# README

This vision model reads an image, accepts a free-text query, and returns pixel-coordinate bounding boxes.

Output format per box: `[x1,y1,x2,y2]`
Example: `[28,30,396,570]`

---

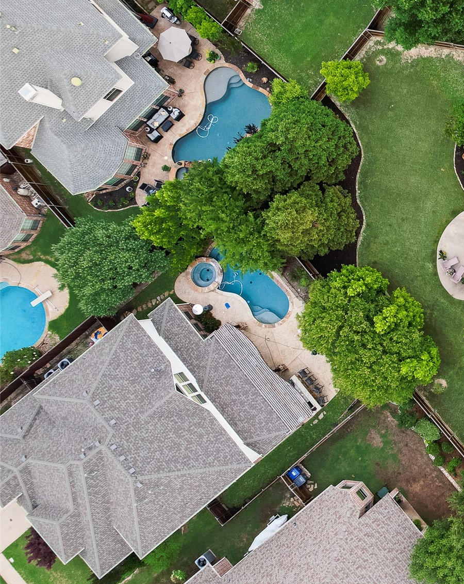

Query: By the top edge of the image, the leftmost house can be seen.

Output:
[0,0,177,195]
